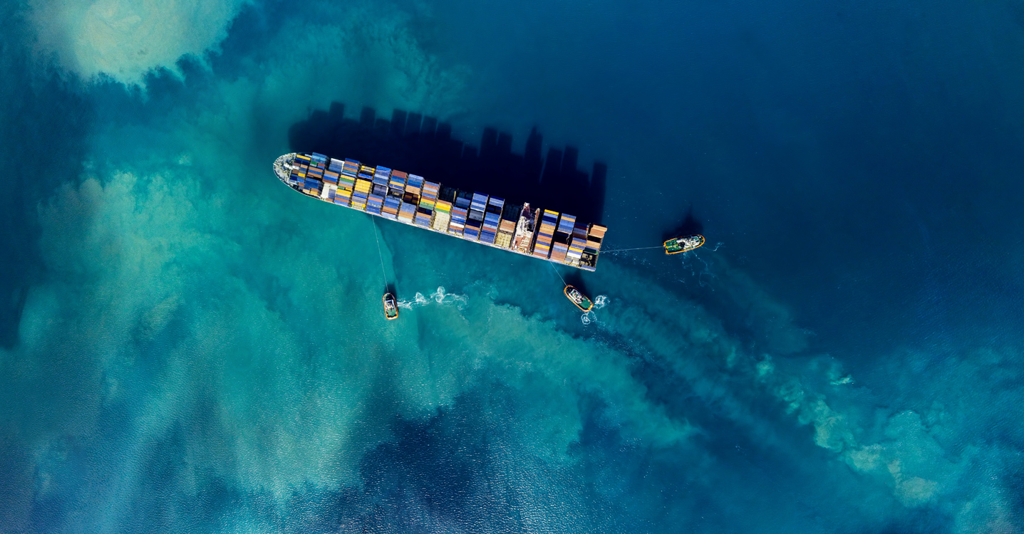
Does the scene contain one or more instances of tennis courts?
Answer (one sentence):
No, this view has no tennis court in it.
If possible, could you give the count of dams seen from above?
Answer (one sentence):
There are no dams in the image.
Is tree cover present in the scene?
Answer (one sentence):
No, the scene doesn't show any tree cover.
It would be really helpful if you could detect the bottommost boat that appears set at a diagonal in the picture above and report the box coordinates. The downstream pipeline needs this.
[564,285,595,315]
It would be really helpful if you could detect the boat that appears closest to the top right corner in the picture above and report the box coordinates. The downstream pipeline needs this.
[665,236,705,254]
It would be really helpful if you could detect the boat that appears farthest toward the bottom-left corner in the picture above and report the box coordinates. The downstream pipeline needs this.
[383,292,398,320]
